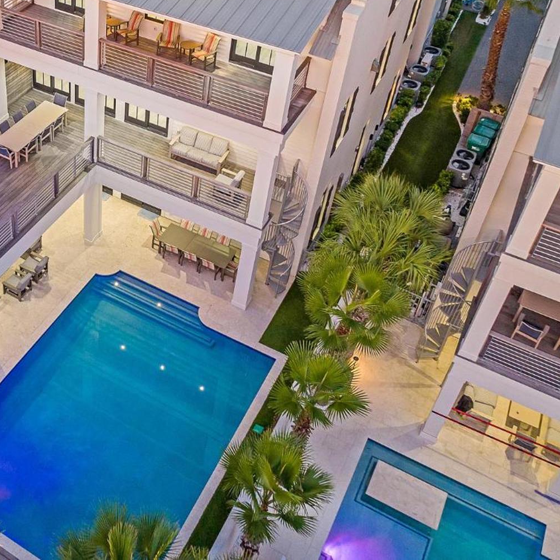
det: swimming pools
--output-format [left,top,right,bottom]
[0,272,288,560]
[317,436,557,560]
